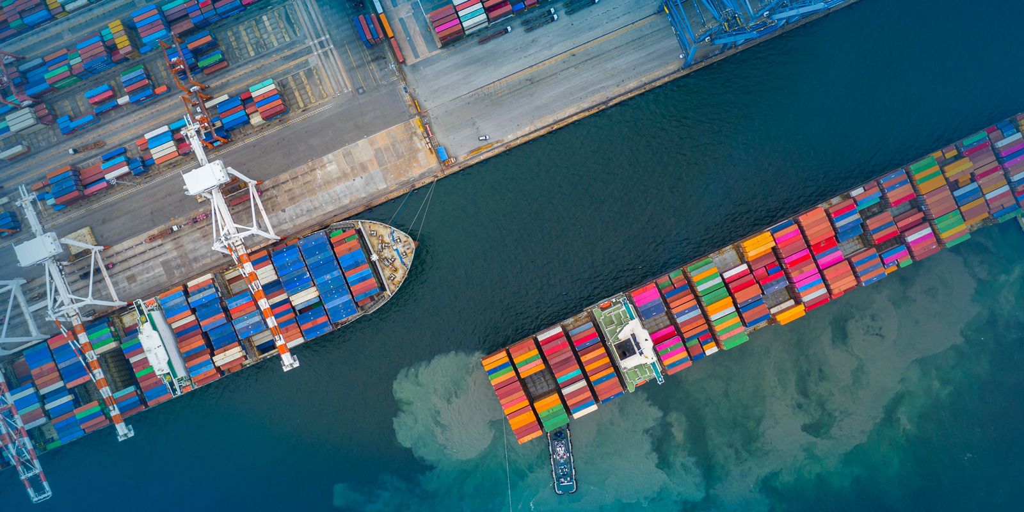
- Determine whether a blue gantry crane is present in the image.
Yes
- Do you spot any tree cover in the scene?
No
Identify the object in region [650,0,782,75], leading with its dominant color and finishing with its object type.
blue container crane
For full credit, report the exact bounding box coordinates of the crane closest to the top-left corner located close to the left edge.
[0,46,44,106]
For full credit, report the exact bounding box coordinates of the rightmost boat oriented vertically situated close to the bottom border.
[546,422,577,496]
